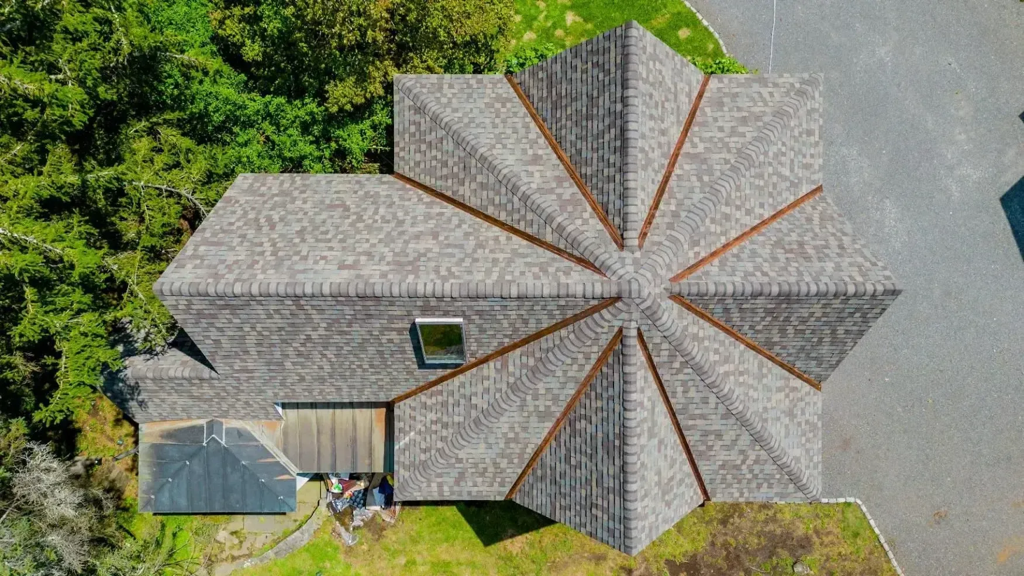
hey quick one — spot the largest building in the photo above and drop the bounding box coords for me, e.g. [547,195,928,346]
[94,20,903,556]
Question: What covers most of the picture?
buildings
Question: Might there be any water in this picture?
No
